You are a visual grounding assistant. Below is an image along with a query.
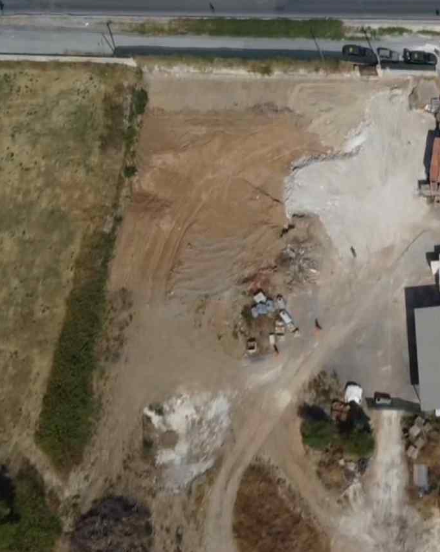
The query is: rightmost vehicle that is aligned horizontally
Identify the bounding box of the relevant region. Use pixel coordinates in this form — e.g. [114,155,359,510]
[405,49,438,65]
